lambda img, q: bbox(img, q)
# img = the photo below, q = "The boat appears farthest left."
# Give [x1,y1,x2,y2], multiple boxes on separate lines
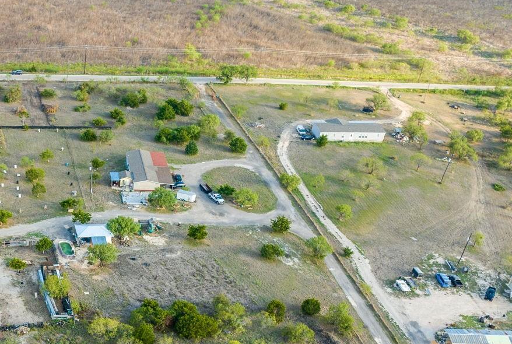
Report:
[392,278,413,292]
